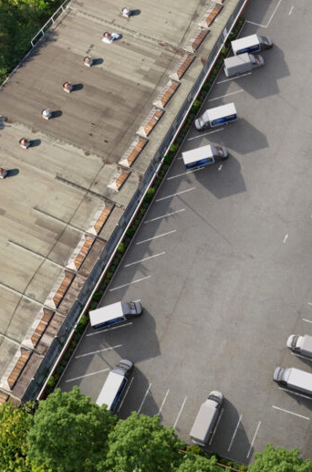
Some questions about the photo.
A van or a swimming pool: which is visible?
van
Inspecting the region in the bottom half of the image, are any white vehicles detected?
Yes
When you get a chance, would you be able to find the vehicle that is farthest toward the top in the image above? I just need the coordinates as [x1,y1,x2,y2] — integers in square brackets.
[233,36,272,57]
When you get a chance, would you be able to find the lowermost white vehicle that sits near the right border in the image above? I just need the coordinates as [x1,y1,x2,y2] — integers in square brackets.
[275,370,312,396]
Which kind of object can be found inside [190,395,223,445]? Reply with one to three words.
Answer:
van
